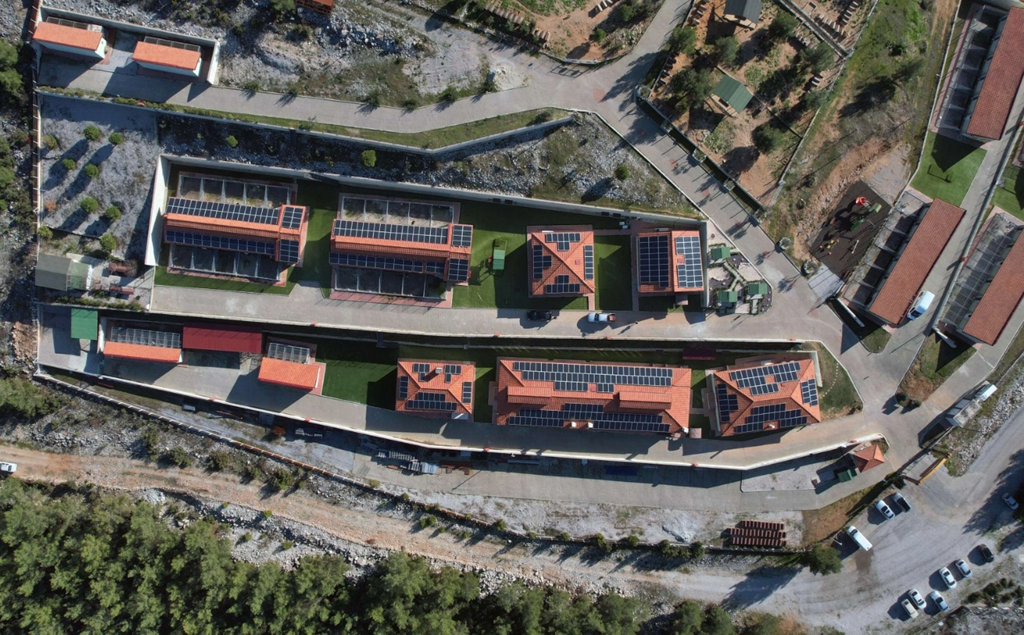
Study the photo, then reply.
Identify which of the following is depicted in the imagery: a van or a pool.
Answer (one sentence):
Of the two, only a van appears.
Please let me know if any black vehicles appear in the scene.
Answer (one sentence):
Yes, a black vehicle appears in the view.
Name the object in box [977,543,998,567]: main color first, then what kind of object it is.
black car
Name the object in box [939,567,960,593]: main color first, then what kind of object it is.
white car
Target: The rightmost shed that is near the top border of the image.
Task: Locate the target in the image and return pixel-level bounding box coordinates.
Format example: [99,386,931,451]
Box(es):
[916,0,1024,155]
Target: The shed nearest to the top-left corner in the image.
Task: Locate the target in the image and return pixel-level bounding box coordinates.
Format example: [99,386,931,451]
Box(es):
[33,13,109,55]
